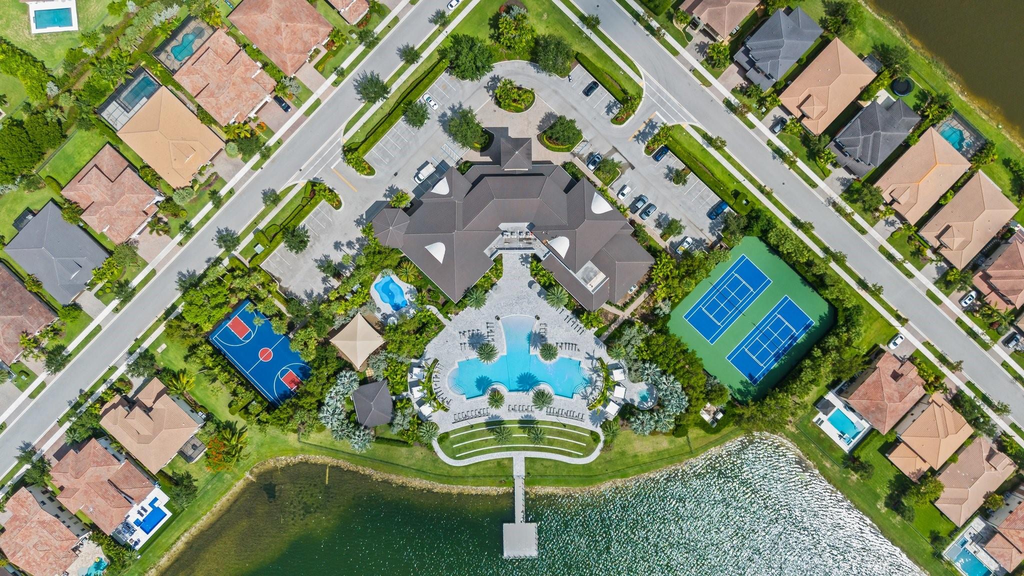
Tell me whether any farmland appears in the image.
No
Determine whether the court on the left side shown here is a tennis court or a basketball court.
basketball court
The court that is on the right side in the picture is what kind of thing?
tennis court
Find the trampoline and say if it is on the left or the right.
right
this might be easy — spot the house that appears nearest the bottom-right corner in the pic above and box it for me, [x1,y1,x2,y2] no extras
[979,493,1024,571]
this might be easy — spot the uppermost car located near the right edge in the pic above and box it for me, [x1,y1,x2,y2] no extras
[960,291,976,307]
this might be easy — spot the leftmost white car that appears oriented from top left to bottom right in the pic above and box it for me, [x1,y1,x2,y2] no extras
[422,93,439,110]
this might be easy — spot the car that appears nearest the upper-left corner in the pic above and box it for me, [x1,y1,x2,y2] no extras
[274,96,291,112]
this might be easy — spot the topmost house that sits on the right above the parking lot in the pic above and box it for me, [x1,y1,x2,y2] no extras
[679,0,761,41]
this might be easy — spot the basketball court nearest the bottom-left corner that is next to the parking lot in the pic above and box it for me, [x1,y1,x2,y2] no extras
[210,297,320,406]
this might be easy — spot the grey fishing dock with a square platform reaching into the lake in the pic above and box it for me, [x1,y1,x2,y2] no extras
[503,478,537,559]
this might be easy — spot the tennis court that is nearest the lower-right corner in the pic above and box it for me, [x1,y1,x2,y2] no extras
[667,236,835,404]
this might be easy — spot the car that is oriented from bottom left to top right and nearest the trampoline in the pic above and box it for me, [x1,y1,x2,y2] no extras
[772,116,787,133]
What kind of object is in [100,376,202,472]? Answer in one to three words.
house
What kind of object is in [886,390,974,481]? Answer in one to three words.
house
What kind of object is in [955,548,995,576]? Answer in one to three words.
swimming pool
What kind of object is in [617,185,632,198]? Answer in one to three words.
vehicle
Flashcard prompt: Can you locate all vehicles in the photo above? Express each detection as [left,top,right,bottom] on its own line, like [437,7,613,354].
[675,235,694,253]
[415,159,436,183]
[583,80,599,97]
[1005,333,1021,349]
[446,0,462,12]
[422,93,439,110]
[631,192,650,212]
[641,204,657,220]
[587,154,603,170]
[709,200,729,220]
[617,185,632,198]
[772,116,787,133]
[274,96,291,112]
[960,291,976,307]
[653,145,669,162]
[888,334,905,351]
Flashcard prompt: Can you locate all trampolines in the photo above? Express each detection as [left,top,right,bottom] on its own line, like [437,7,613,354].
[892,76,918,97]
